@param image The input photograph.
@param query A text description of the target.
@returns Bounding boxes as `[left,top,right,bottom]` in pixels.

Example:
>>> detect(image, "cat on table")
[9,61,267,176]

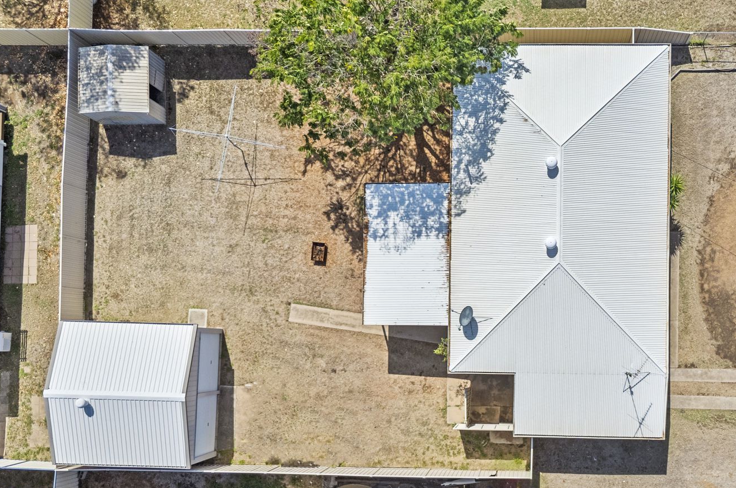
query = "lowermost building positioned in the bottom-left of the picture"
[45,317,221,471]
